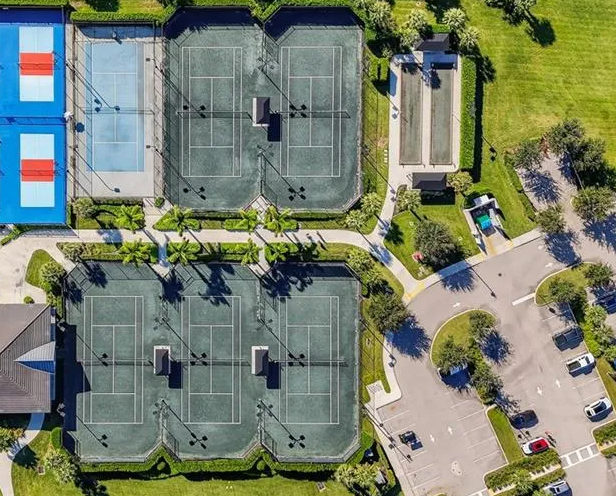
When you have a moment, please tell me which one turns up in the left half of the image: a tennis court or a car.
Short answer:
tennis court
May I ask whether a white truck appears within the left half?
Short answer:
No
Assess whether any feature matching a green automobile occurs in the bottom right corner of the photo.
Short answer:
No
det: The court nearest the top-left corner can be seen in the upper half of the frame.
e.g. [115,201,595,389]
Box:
[15,27,55,101]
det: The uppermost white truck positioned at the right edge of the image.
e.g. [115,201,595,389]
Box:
[563,351,597,374]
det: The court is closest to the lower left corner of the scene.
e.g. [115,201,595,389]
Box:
[78,296,148,424]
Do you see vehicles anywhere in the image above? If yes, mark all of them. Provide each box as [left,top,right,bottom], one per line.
[521,436,550,455]
[508,408,538,428]
[400,431,417,444]
[541,480,567,496]
[550,325,584,348]
[592,289,616,305]
[563,351,597,374]
[582,398,611,418]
